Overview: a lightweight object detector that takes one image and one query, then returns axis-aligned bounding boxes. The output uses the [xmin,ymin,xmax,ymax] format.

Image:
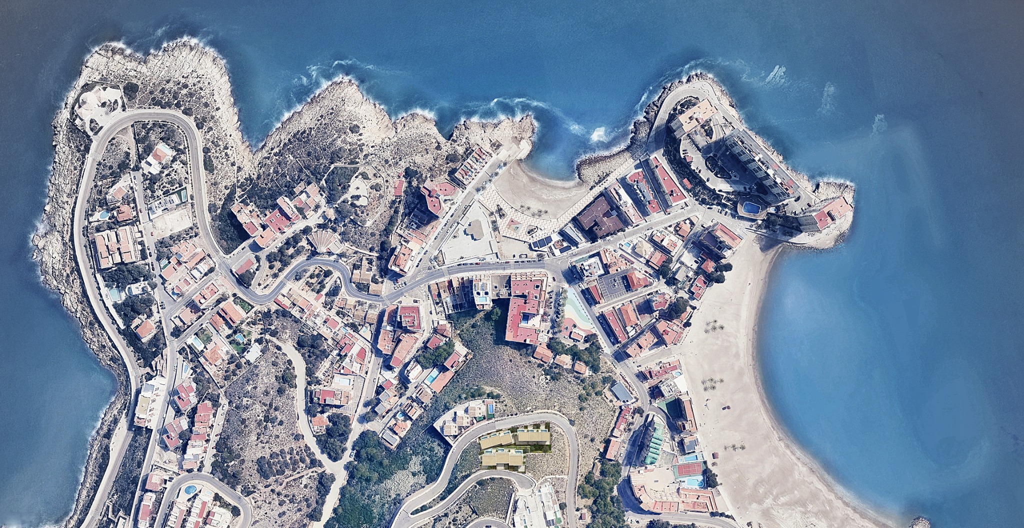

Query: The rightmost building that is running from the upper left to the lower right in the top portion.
[730,129,801,200]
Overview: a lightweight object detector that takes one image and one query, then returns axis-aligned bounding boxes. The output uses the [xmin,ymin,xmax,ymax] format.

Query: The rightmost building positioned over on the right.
[800,197,853,232]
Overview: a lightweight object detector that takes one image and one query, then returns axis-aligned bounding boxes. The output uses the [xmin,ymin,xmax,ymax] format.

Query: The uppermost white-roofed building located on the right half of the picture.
[670,98,718,138]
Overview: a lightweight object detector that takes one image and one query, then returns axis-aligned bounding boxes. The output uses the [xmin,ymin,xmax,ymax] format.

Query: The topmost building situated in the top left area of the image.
[76,86,110,120]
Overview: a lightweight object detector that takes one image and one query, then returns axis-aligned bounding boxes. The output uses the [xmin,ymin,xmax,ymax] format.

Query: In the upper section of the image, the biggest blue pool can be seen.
[742,201,761,215]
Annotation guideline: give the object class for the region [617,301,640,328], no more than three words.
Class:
house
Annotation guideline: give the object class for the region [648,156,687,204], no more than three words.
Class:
building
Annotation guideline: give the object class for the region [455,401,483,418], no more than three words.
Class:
house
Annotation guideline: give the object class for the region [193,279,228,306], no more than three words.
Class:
building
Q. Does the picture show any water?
Yes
